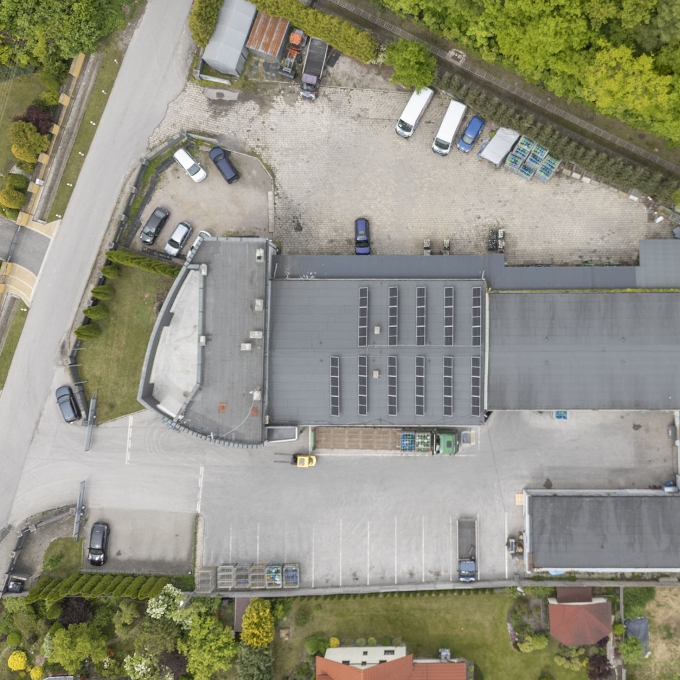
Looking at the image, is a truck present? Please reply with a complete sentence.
Yes, a truck appears in the view.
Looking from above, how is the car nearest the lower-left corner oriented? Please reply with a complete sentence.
What the image shows is the car nearest the lower-left corner lying vertically.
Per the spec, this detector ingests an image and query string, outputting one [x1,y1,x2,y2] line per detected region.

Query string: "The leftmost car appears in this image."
[54,384,82,425]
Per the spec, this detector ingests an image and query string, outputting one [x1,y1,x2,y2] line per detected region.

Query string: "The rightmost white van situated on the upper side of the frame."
[433,98,467,157]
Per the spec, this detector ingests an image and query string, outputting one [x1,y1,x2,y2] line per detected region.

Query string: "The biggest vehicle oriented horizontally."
[311,429,460,455]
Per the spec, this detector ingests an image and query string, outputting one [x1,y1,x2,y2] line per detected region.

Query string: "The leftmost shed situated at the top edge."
[203,0,258,82]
